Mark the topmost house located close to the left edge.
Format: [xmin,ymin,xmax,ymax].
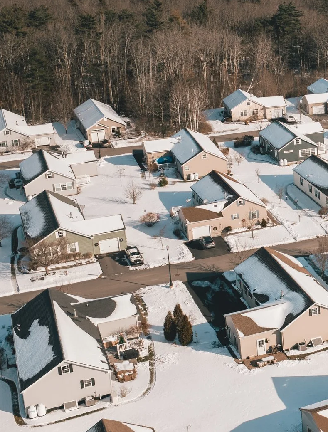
[0,109,55,153]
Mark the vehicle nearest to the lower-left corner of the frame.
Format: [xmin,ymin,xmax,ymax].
[124,247,143,264]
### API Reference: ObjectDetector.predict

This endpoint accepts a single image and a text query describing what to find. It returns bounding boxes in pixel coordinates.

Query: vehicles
[99,137,112,147]
[197,234,215,249]
[124,247,143,264]
[284,111,294,121]
[78,137,91,146]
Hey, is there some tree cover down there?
Yes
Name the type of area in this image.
residential area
